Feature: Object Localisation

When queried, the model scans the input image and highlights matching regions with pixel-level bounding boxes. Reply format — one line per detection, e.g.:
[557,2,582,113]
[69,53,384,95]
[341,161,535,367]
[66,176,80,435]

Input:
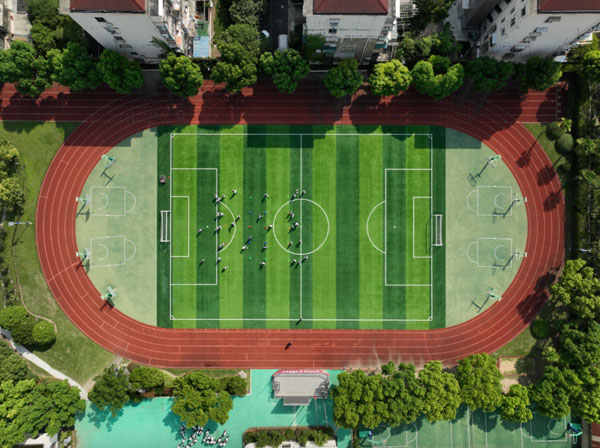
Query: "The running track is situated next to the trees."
[0,81,568,368]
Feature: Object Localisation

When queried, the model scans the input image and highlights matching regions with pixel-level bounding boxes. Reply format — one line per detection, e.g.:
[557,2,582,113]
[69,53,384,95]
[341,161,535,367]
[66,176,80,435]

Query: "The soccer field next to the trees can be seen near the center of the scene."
[157,125,446,329]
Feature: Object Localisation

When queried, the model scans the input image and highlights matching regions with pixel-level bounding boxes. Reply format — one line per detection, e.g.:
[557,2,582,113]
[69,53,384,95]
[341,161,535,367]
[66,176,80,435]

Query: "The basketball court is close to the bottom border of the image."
[357,402,579,448]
